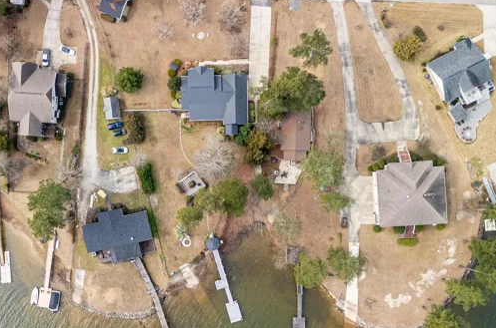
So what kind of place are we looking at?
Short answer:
residential area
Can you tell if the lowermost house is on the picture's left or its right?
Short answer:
left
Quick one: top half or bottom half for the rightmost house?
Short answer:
top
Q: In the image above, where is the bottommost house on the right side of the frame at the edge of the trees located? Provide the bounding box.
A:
[373,150,448,239]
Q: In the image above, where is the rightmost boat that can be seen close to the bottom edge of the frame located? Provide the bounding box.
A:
[48,291,61,312]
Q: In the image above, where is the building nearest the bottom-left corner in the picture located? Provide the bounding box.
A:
[82,208,156,263]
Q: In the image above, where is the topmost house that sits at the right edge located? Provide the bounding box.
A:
[424,38,496,122]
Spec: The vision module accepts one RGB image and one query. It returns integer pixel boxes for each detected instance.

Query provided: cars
[111,147,128,153]
[58,45,75,54]
[41,48,48,65]
[106,122,123,130]
[112,129,126,137]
